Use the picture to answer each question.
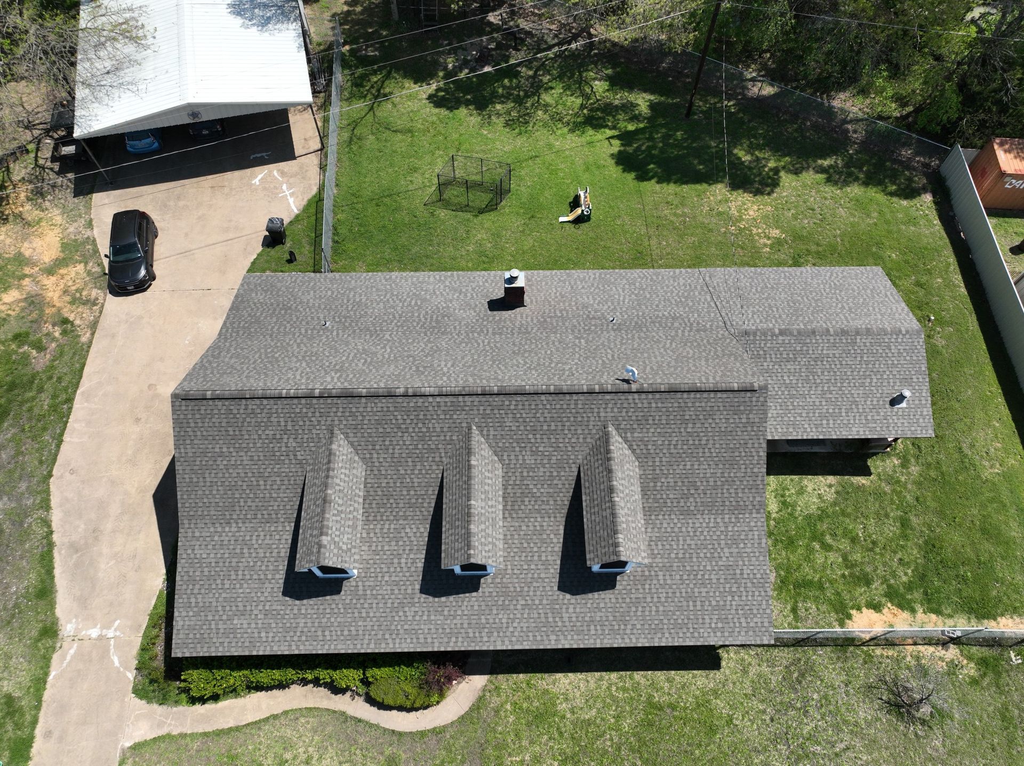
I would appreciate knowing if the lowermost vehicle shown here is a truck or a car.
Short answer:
car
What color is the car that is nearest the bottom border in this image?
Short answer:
black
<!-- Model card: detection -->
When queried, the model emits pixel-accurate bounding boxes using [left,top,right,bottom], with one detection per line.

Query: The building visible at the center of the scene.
[171,266,934,658]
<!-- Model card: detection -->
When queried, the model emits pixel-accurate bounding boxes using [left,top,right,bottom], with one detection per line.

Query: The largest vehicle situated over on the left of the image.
[101,206,162,293]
